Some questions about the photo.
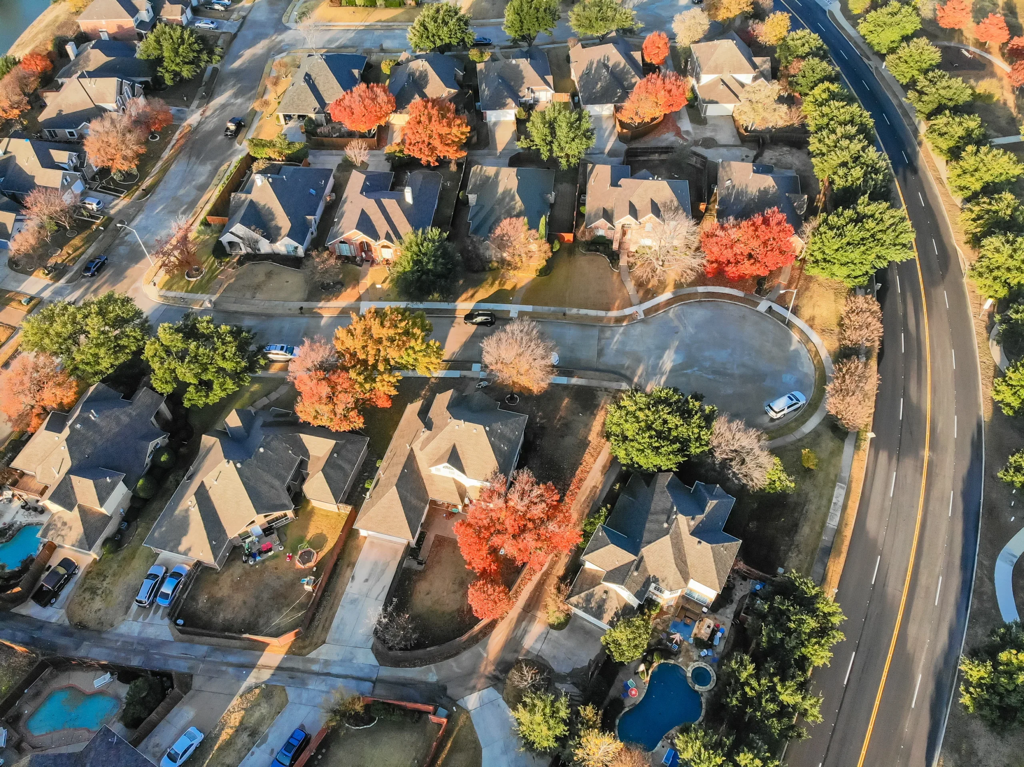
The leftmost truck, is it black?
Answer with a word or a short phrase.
Yes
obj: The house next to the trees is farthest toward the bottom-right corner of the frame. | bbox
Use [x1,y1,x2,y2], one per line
[562,466,743,637]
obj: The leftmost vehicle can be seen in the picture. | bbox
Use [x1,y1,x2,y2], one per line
[25,553,83,610]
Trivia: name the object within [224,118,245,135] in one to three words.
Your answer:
vehicle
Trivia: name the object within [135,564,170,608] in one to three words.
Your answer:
car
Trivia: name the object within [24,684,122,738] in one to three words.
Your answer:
swimming pool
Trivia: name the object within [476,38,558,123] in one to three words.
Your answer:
house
